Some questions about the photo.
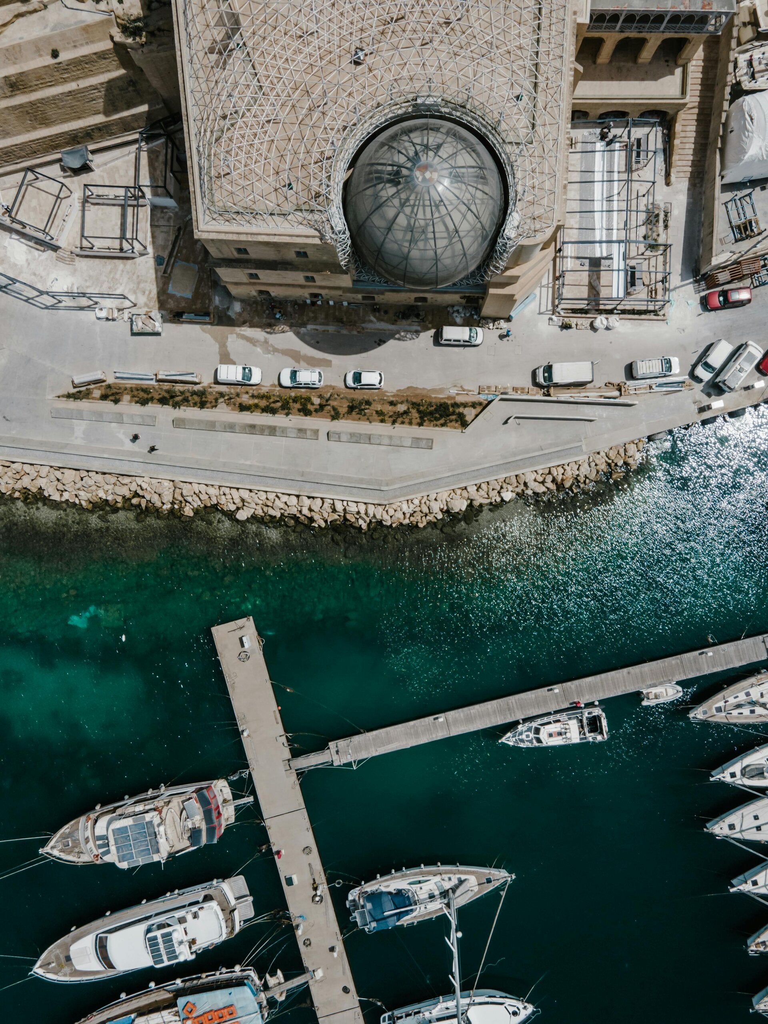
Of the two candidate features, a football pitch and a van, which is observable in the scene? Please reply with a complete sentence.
Visible in the photo is a van.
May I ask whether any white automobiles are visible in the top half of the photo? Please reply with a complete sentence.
Yes, looking in the top half of the photo, one can make out a white automobile.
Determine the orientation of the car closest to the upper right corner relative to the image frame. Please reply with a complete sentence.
The car closest to the upper right corner is oriented from left to right.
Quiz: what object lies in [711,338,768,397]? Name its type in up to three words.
van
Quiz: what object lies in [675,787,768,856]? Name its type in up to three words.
boat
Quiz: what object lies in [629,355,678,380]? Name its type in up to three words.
car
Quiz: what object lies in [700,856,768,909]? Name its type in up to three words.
boat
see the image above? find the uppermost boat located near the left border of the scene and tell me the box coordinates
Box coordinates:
[5,771,264,879]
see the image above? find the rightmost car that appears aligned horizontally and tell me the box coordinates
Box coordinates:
[701,287,754,313]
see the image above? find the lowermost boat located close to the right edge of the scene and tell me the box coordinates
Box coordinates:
[743,983,768,1017]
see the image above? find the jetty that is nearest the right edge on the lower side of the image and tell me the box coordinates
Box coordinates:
[329,633,768,765]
